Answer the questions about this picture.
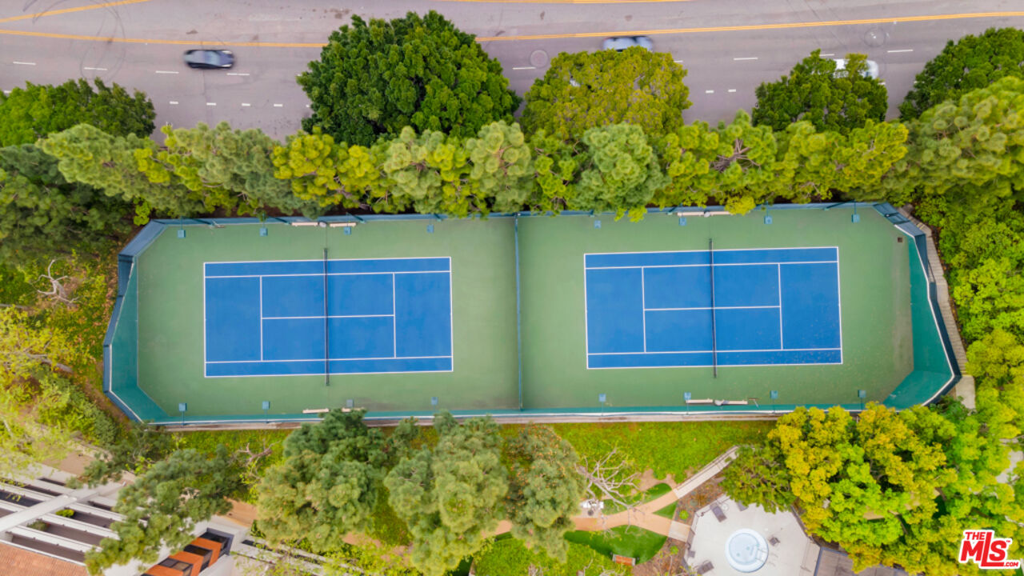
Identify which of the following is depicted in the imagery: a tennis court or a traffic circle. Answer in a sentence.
The one in the frame is a tennis court.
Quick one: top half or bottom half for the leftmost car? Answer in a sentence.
The top half of the photo is where the leftmost car is.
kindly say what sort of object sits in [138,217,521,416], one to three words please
tennis court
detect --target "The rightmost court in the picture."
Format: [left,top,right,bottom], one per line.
[517,206,913,409]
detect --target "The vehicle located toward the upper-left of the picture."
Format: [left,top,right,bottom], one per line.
[184,46,235,71]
